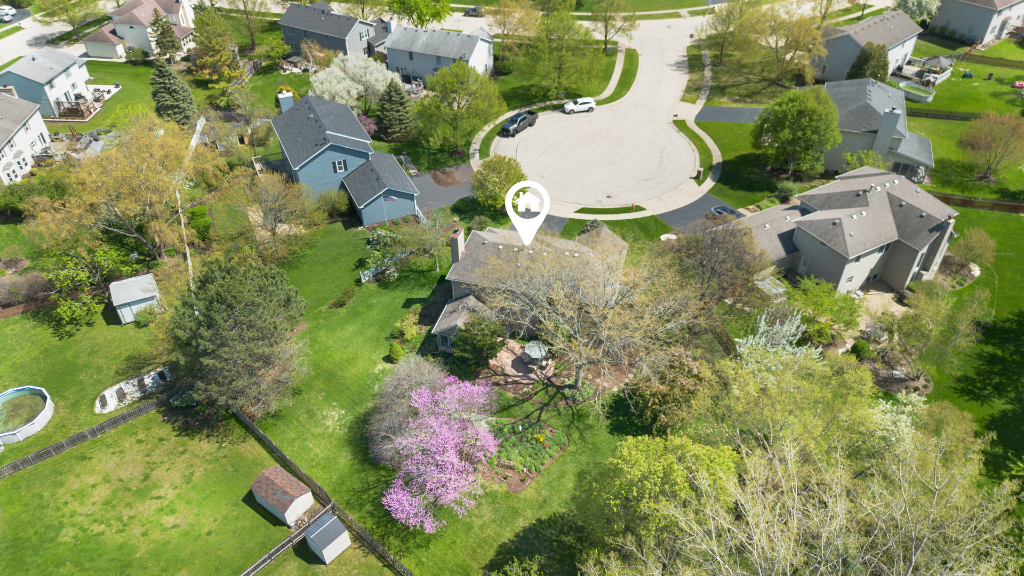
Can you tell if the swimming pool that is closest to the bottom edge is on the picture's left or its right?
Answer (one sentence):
The swimming pool that is closest to the bottom edge is on the left side of the image.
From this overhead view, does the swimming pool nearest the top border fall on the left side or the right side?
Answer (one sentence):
You can find the swimming pool nearest the top border on the right side of the picture.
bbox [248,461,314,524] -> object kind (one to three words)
shed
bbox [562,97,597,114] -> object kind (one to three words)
car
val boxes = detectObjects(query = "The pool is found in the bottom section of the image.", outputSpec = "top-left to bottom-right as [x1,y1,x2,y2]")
[0,386,57,446]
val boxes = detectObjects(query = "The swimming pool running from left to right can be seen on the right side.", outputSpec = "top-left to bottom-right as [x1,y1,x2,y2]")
[892,83,942,104]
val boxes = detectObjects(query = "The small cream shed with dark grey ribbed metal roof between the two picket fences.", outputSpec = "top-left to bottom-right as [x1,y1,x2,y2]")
[303,512,351,564]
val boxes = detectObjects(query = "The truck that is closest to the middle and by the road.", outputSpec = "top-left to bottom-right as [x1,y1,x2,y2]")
[500,112,538,136]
